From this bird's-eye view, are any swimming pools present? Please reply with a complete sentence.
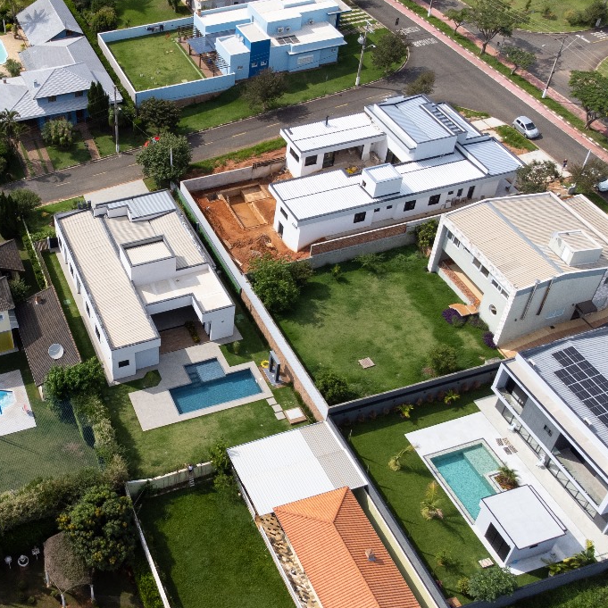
Yes, the photo shows a swimming pool.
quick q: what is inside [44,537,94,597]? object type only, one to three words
gazebo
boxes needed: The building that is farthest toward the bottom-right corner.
[474,485,571,567]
